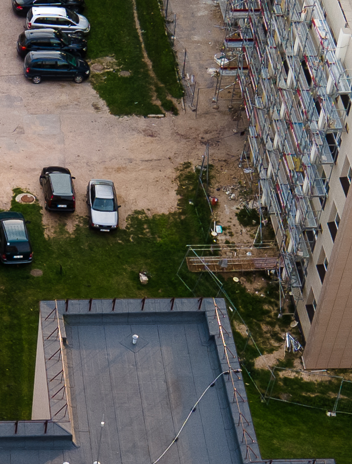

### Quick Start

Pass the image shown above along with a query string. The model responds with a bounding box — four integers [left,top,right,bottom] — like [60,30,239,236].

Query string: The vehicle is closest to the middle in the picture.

[79,164,122,226]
